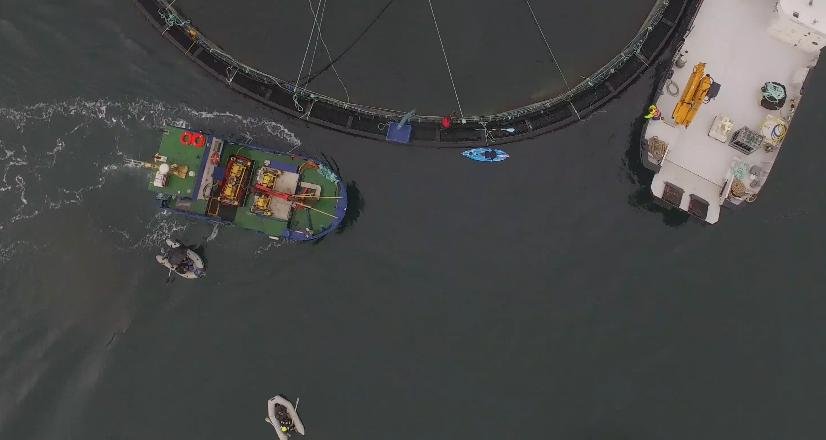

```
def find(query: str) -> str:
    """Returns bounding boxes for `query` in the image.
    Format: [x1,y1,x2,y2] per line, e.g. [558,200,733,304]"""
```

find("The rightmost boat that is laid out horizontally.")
[461,148,510,161]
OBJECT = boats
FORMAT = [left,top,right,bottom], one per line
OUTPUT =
[461,148,510,161]
[120,127,352,238]
[153,238,205,279]
[633,0,826,220]
[269,395,305,440]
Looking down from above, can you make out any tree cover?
No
